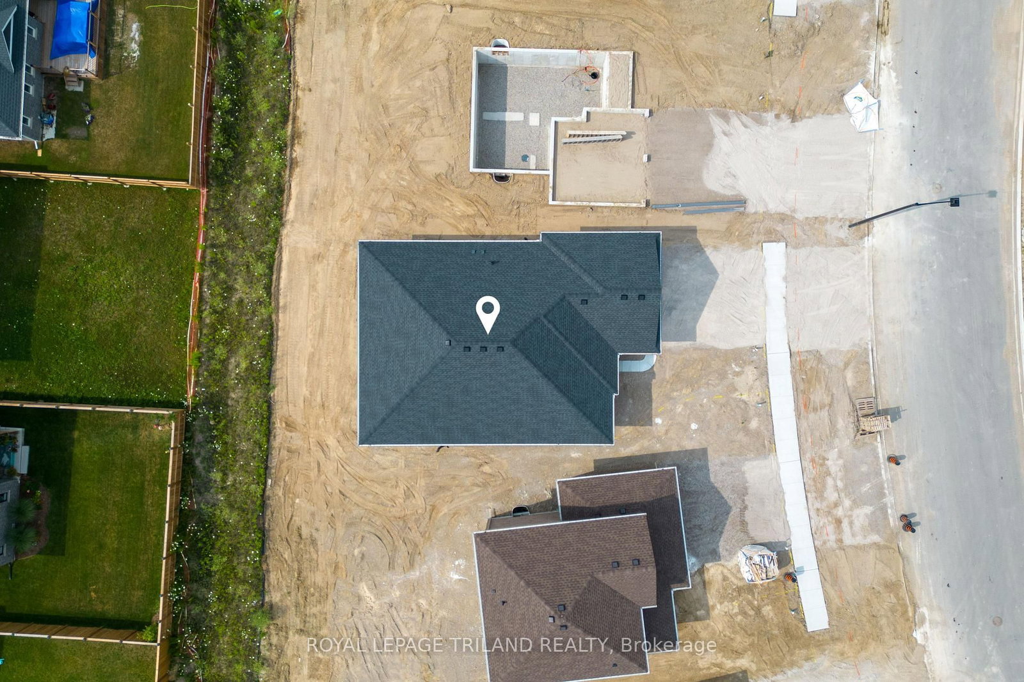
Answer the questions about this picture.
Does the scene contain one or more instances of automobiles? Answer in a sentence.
No, I can see no automobile in this picture.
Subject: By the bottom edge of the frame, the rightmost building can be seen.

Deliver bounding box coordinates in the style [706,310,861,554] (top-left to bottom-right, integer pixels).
[472,465,692,682]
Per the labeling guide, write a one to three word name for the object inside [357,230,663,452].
house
